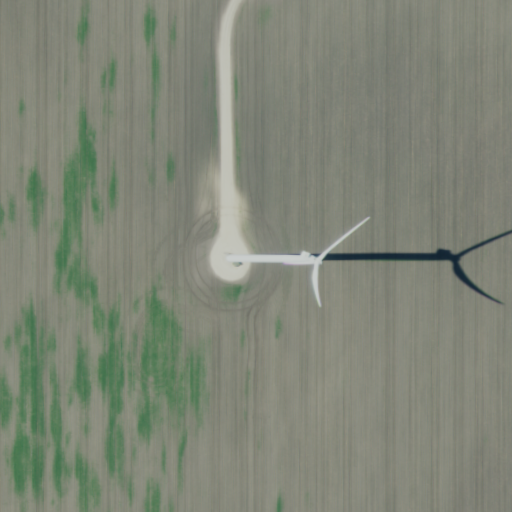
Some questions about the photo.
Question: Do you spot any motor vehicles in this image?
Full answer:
No, the frame has no motor vehicle in it.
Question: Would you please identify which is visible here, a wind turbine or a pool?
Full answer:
There is a wind turbine in the scene.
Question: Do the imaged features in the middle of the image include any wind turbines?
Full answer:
Yes, the scene does show a wind turbine in the middle of the image.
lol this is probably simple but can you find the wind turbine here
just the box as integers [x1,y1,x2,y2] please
[224,216,369,308]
